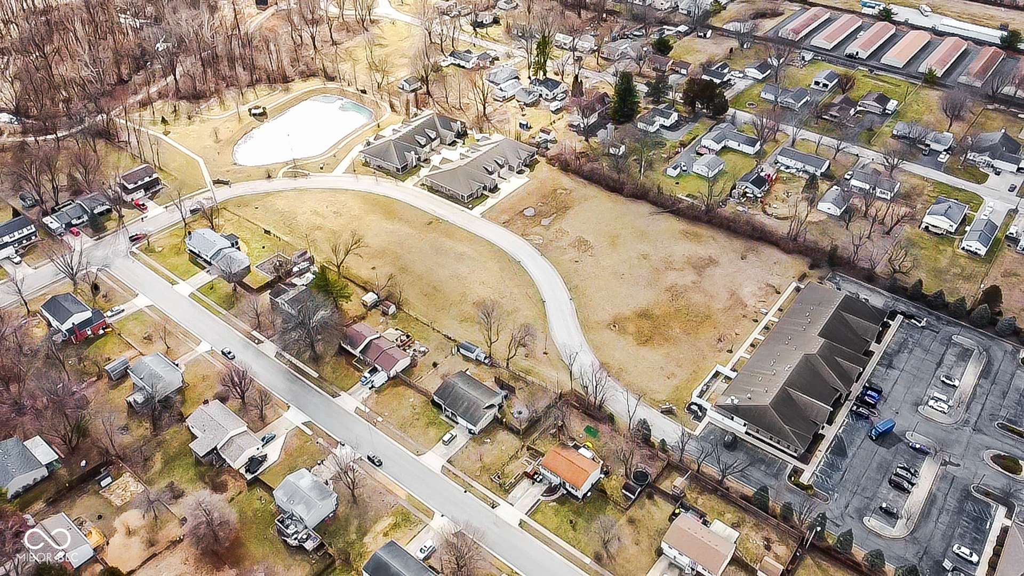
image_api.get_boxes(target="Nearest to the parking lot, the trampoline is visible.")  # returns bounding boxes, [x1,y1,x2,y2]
[630,466,654,485]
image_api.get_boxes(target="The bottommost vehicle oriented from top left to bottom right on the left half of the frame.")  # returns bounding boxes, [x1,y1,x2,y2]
[365,450,383,465]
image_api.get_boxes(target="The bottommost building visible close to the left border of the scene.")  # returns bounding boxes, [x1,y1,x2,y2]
[22,508,104,576]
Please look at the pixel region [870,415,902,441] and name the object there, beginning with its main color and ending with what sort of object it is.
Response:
blue truck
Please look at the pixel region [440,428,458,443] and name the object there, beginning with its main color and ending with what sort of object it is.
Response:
white car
